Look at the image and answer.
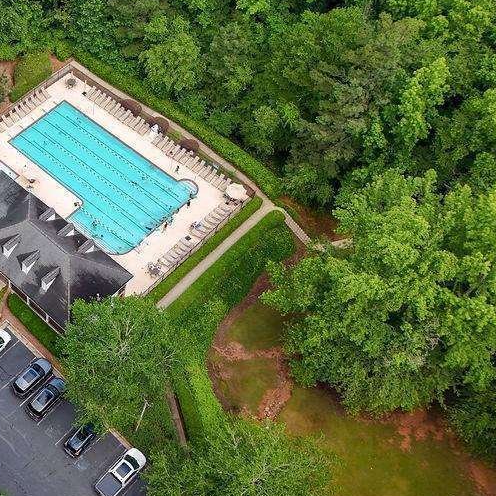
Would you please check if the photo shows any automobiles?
Yes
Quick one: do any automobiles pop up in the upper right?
No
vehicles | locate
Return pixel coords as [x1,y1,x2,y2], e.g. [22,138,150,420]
[92,445,150,496]
[10,357,54,400]
[61,420,105,460]
[23,379,69,422]
[0,327,16,353]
